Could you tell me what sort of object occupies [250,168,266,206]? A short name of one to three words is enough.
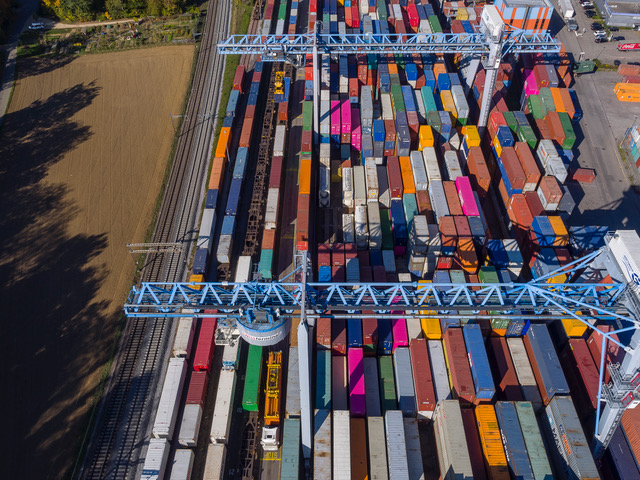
rail car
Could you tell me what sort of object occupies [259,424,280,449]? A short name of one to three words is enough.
vehicle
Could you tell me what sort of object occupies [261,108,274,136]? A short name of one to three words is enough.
rail car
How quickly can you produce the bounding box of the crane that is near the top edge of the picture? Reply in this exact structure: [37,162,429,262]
[211,0,562,152]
